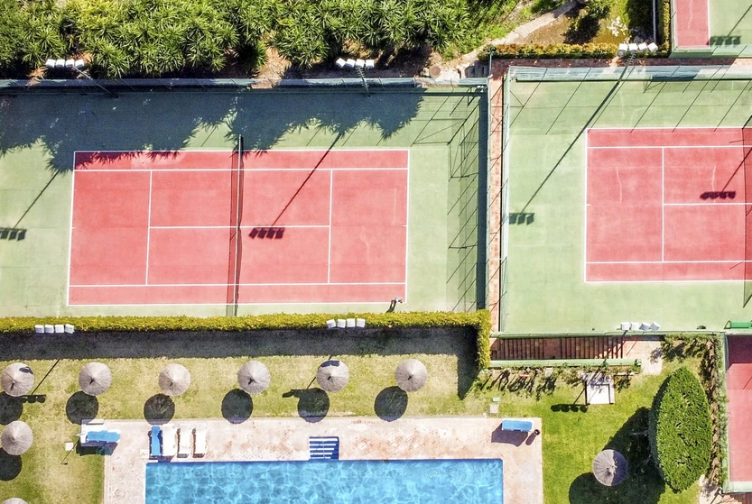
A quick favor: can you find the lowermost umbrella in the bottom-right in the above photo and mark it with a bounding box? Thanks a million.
[592,449,627,485]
